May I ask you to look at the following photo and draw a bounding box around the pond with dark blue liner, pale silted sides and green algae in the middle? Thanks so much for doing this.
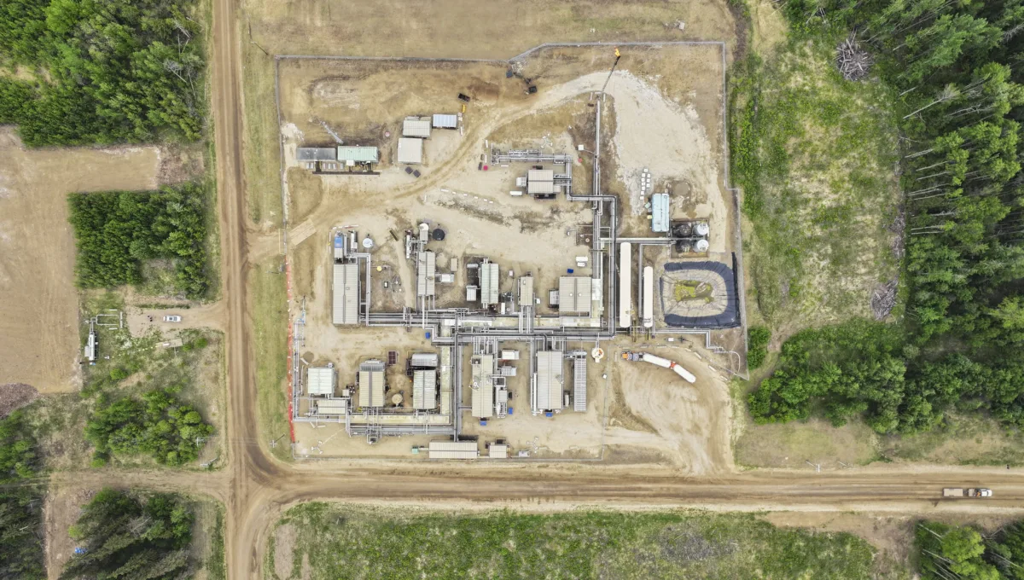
[661,253,742,330]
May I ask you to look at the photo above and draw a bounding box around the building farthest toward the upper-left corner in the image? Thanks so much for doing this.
[338,145,379,168]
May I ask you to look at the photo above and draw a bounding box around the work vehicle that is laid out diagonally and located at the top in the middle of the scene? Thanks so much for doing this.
[517,73,538,94]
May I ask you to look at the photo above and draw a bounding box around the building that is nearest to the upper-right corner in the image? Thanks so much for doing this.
[649,193,669,232]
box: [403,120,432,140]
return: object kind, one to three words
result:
shed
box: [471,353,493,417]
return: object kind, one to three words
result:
building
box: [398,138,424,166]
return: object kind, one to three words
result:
shed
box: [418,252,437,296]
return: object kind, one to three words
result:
building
